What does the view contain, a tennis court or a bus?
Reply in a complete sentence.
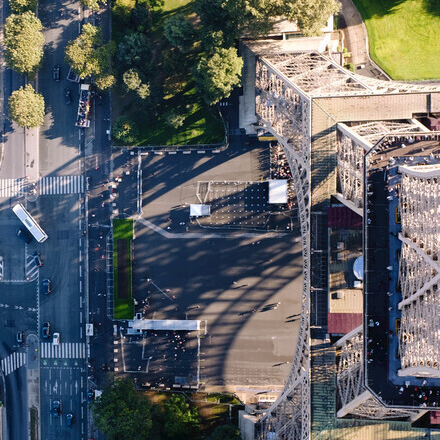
This aerial view contains a bus.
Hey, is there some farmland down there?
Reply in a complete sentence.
No, there is no farmland in the image.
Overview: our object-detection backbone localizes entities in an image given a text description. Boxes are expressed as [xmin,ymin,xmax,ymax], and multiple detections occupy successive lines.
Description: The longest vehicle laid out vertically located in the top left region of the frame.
[73,81,90,128]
